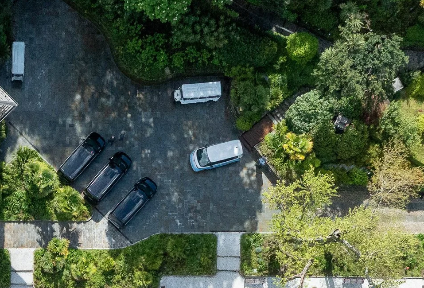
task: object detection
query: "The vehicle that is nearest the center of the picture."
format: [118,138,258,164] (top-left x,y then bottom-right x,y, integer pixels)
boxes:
[187,138,247,176]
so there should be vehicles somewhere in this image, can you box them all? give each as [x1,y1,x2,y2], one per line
[79,153,131,211]
[55,129,107,188]
[187,138,247,176]
[172,80,227,112]
[104,176,157,235]
[11,39,25,89]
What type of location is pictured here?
sports ground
